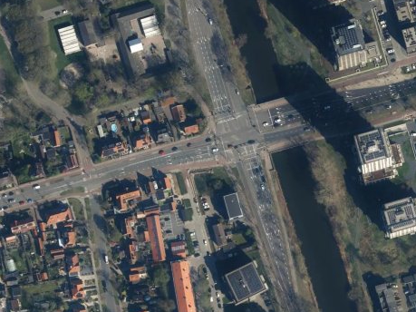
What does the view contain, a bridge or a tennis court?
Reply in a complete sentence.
I can see a bridge in this picture.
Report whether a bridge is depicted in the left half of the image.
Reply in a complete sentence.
No, I can find no bridge in the left half of the image.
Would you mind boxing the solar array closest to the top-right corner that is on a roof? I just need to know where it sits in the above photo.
[338,26,359,48]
